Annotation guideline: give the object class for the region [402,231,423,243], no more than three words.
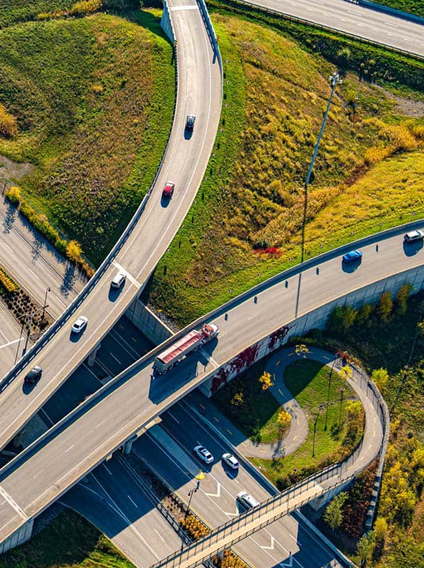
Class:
vehicle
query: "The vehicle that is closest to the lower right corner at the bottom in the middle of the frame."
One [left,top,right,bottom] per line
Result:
[236,491,260,513]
